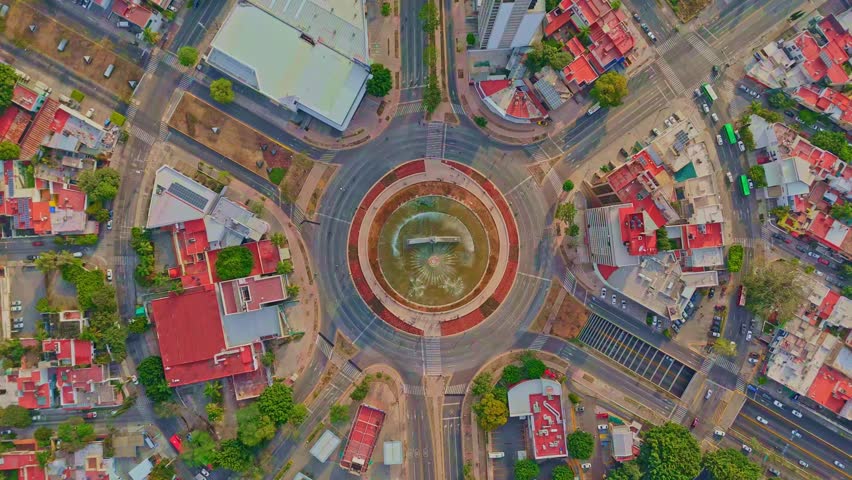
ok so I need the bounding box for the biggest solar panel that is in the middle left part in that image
[170,184,207,210]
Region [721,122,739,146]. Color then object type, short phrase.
green vehicle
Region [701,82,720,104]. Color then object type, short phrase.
white vehicle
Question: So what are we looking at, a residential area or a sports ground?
residential area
